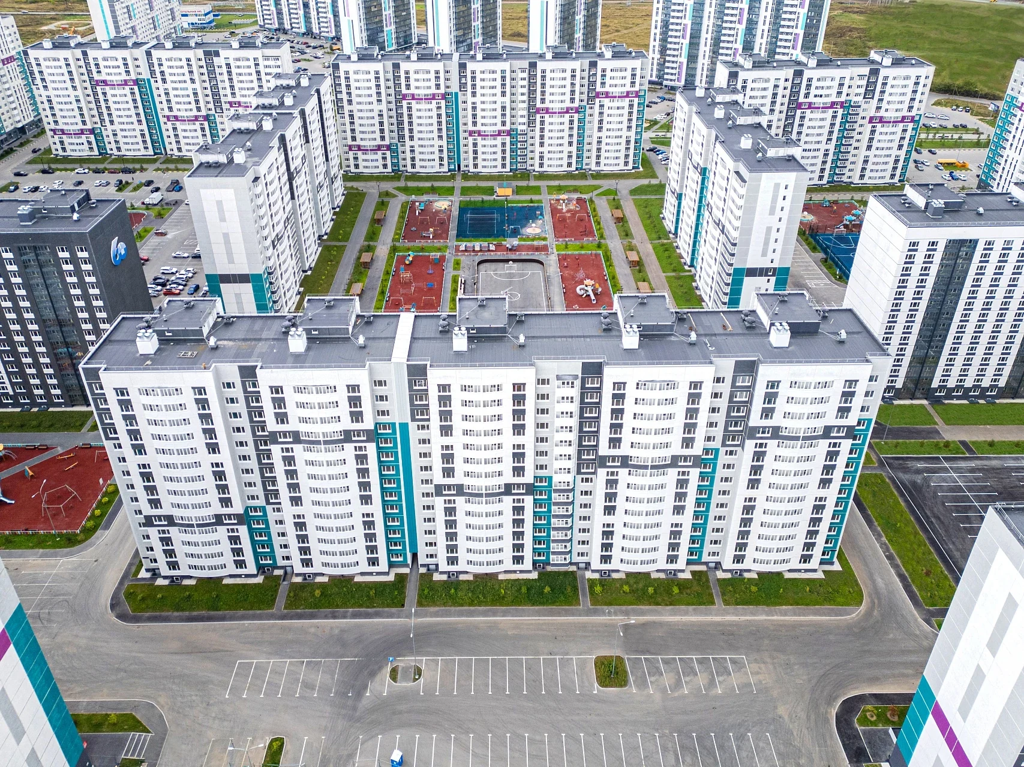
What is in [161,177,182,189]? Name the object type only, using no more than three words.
vehicle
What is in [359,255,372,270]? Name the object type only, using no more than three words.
gazebo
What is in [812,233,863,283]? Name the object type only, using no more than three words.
sports court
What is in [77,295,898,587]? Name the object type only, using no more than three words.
building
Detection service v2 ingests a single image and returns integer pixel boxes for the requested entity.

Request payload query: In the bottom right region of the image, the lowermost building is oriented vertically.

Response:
[900,501,1024,767]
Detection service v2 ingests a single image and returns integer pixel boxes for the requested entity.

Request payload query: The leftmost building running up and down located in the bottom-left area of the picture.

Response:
[0,560,84,767]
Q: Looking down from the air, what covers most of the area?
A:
buildings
